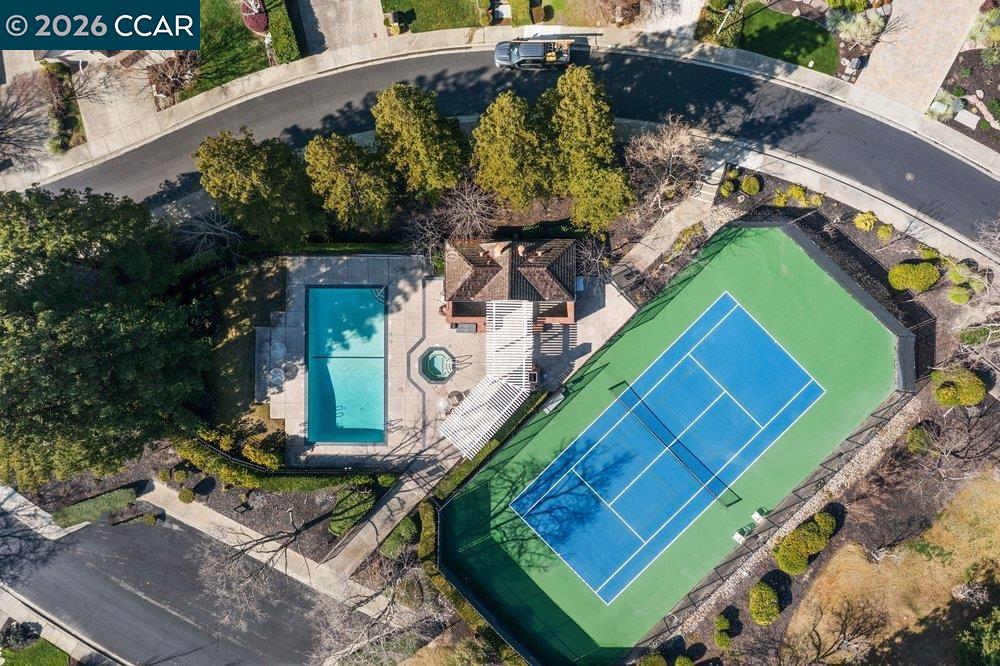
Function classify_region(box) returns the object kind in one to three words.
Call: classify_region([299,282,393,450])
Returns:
swimming pool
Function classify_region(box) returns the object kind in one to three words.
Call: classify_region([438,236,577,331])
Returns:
building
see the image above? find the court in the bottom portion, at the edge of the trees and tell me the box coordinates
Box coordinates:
[440,229,897,666]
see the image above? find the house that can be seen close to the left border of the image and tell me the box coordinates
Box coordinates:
[34,0,175,67]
